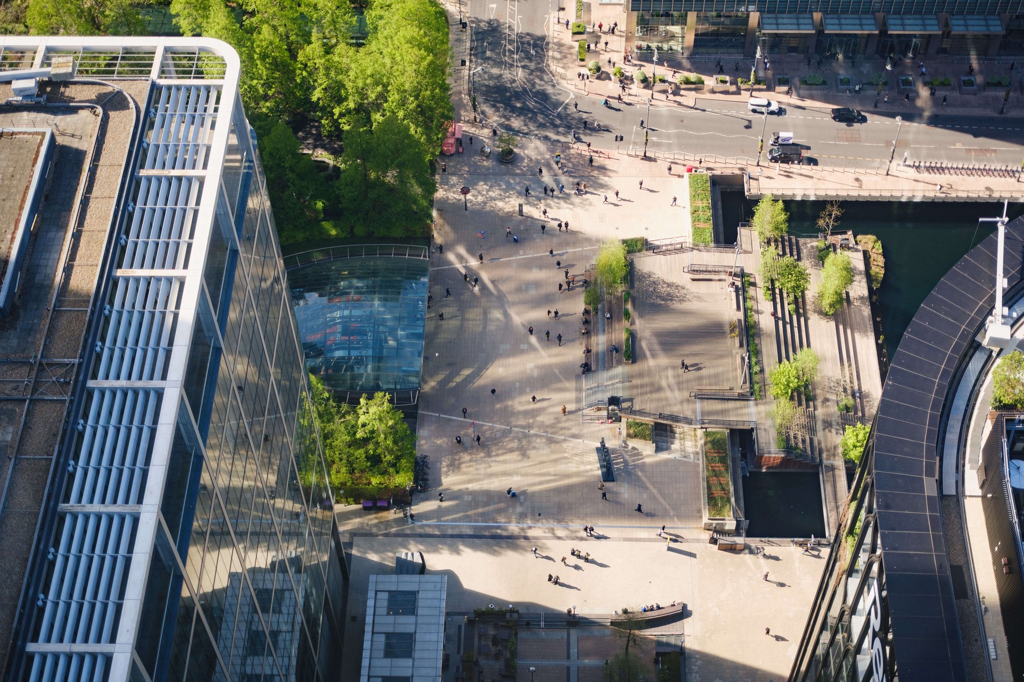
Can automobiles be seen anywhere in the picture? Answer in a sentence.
Yes, an automobile appears in the view.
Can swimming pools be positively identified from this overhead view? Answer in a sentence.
No, there's no swimming pool here.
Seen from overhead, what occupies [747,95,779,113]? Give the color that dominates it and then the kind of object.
white car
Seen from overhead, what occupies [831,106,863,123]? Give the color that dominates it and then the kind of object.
black car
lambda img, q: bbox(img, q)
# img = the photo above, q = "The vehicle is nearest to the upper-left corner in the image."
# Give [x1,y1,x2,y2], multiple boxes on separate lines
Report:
[443,119,463,155]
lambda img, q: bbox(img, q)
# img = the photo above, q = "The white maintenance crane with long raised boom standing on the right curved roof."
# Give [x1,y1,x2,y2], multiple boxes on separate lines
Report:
[959,201,1020,374]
